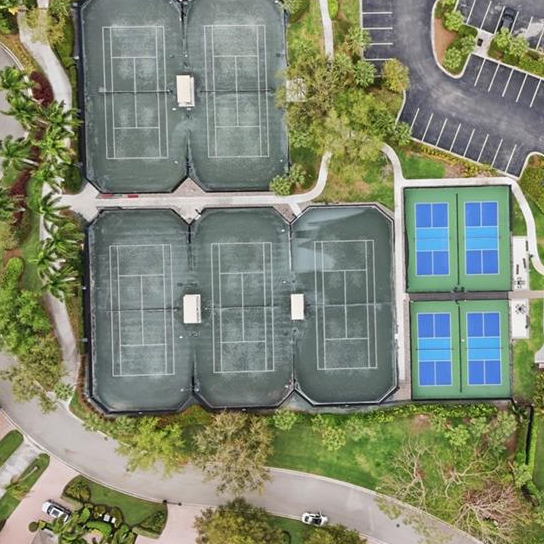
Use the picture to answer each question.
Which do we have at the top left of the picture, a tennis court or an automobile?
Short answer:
tennis court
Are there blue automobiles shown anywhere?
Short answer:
No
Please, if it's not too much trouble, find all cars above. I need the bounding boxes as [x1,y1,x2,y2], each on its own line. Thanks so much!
[301,511,328,526]
[497,6,513,33]
[42,499,71,521]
